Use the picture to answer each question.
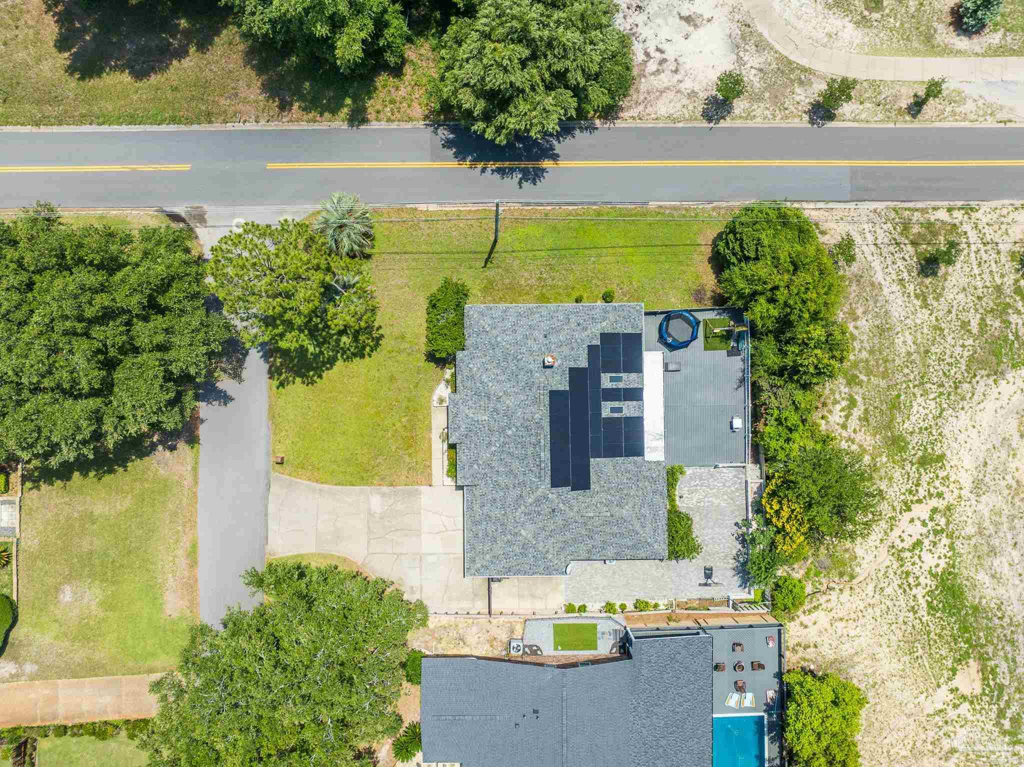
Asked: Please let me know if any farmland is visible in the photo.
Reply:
No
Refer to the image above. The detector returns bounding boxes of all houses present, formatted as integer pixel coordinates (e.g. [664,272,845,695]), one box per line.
[449,303,668,577]
[418,633,713,767]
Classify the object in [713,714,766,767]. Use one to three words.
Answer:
swimming pool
